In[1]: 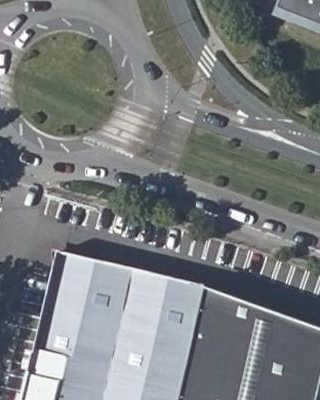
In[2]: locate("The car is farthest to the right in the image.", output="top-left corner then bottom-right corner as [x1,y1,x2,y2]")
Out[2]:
[292,234,316,247]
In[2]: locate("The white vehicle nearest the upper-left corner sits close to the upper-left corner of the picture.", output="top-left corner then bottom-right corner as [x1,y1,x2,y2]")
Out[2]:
[4,15,24,36]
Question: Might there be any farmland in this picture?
No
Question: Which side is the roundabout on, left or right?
left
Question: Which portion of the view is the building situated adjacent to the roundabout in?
bottom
